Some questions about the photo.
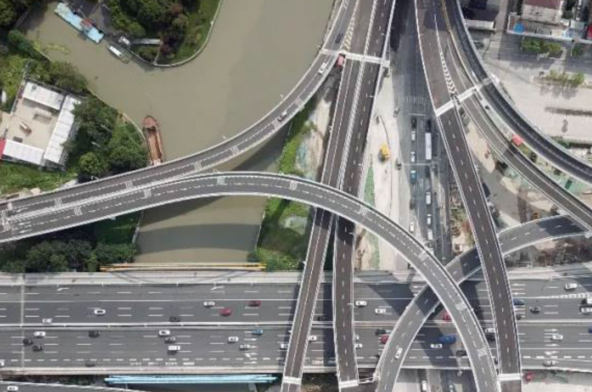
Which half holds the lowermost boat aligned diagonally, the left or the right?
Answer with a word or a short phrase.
left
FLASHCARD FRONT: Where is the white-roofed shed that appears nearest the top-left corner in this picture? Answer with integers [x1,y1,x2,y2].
[22,81,66,111]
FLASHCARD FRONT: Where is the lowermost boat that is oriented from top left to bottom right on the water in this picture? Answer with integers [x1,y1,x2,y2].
[110,44,133,66]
